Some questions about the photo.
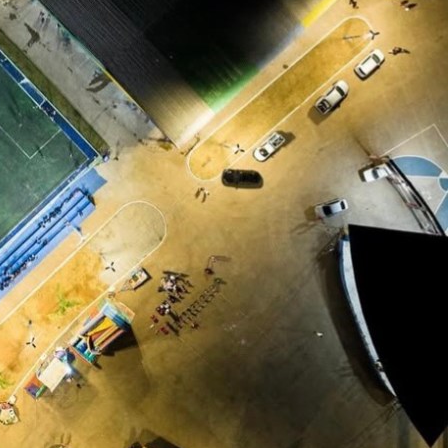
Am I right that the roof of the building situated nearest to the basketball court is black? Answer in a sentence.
Yes, black is the color of the roof of the building situated nearest to the basketball court.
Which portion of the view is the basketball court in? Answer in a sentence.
Look in the right portion of the view to spot the basketball court.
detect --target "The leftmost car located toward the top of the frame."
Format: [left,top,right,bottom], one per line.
[223,168,267,190]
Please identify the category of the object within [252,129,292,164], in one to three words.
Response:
vehicle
